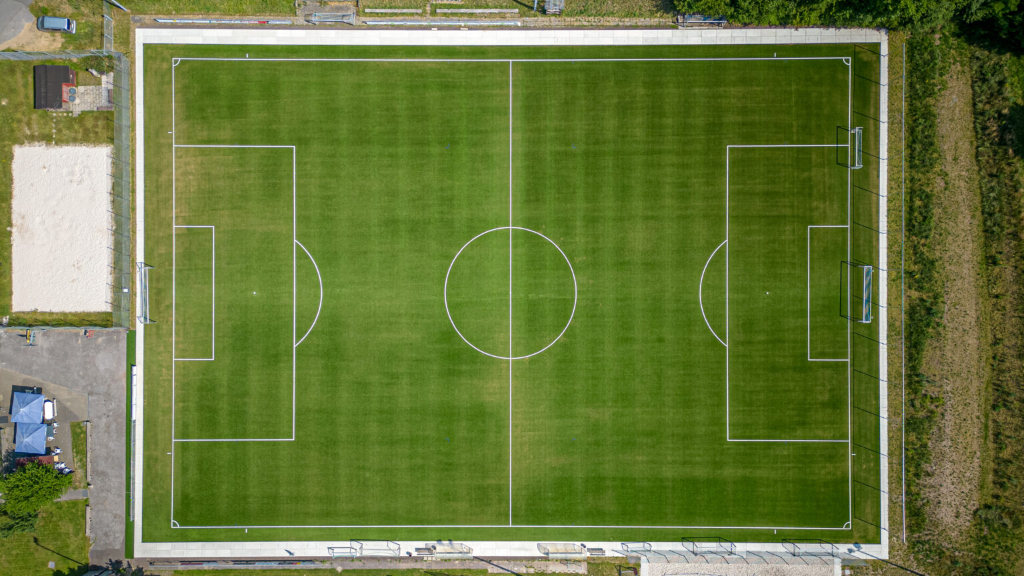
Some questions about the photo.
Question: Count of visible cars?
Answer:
1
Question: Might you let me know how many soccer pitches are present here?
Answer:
1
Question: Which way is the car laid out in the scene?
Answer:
from left to right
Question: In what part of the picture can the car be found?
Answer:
top left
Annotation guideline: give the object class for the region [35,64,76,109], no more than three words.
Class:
shed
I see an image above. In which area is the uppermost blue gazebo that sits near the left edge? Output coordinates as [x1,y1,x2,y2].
[11,390,55,424]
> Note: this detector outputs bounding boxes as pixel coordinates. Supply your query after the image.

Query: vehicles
[38,15,77,36]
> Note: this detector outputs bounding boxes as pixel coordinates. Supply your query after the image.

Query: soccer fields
[142,43,881,544]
